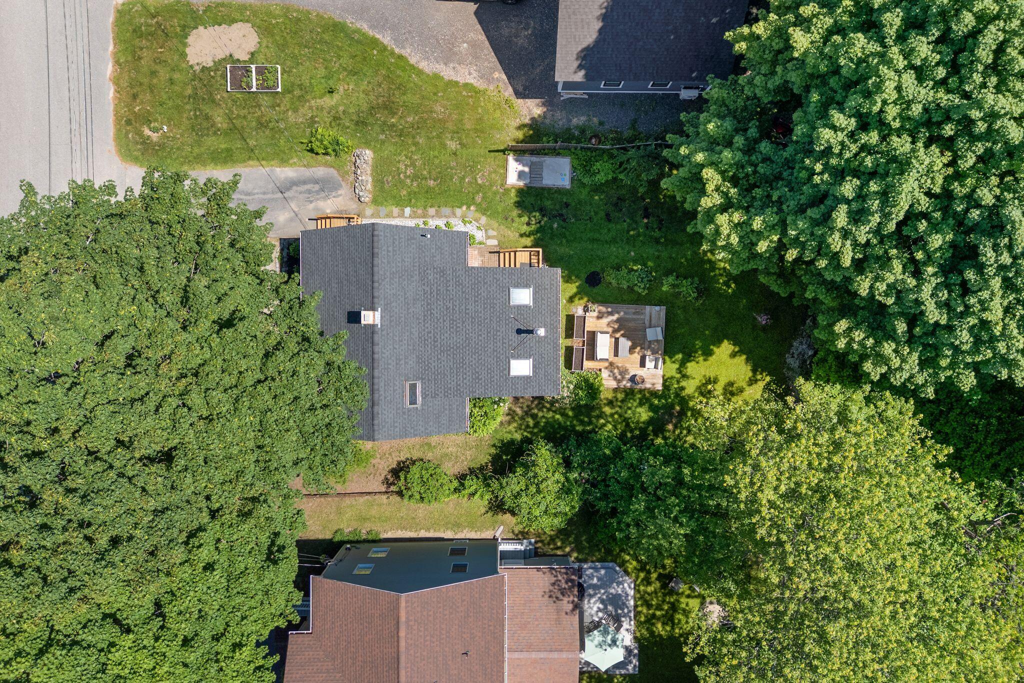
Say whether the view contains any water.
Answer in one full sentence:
No, there's no water in this view.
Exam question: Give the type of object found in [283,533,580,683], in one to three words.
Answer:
house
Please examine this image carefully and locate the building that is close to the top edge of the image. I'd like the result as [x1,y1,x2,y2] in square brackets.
[555,0,749,94]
